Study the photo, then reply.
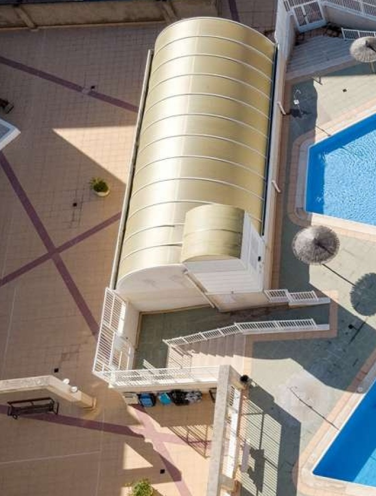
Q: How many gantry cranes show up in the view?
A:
0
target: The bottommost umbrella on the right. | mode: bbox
[296,228,345,270]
